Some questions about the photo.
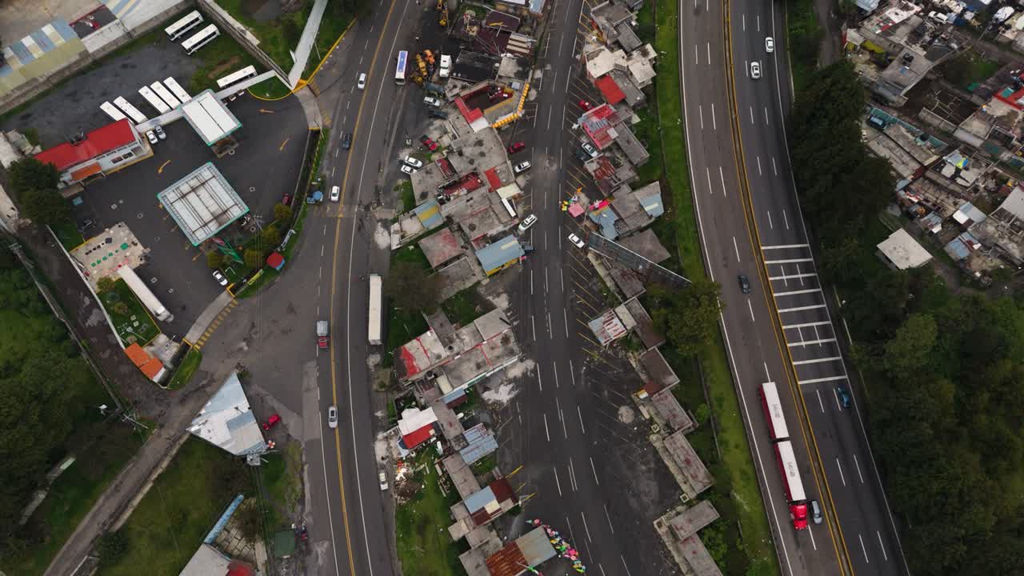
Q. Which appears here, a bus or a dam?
bus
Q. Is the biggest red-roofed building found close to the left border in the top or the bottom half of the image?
top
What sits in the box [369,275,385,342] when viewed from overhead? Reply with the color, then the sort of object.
white trailer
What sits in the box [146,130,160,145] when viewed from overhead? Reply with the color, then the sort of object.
white car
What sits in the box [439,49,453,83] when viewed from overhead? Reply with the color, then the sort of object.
white vehicle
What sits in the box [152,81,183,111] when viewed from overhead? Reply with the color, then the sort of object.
white bus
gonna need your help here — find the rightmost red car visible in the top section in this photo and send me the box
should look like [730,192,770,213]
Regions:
[577,99,595,113]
